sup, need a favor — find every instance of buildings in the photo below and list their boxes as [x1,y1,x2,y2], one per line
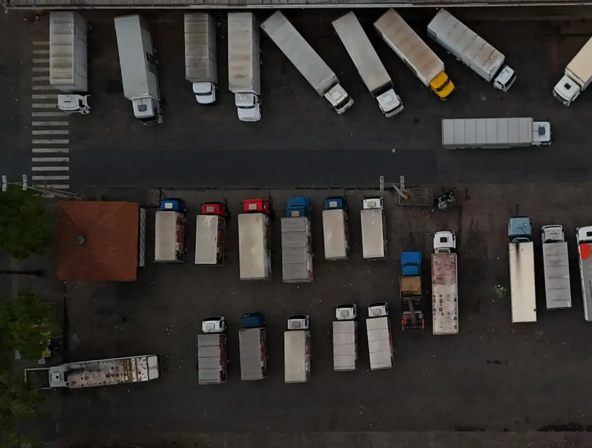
[3,0,592,14]
[57,200,155,281]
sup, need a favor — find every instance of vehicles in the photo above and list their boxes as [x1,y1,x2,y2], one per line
[281,196,315,282]
[374,9,458,103]
[237,195,273,280]
[428,9,517,93]
[198,315,230,384]
[331,11,406,121]
[398,251,424,332]
[262,10,356,115]
[155,196,187,262]
[365,301,395,370]
[50,354,168,390]
[430,229,460,335]
[184,13,220,108]
[442,117,554,151]
[361,195,388,260]
[114,14,166,128]
[505,214,536,323]
[238,311,270,380]
[195,200,226,266]
[284,313,312,383]
[227,12,267,126]
[332,302,361,371]
[539,226,572,309]
[573,225,592,322]
[550,37,592,110]
[50,11,92,117]
[321,194,352,260]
